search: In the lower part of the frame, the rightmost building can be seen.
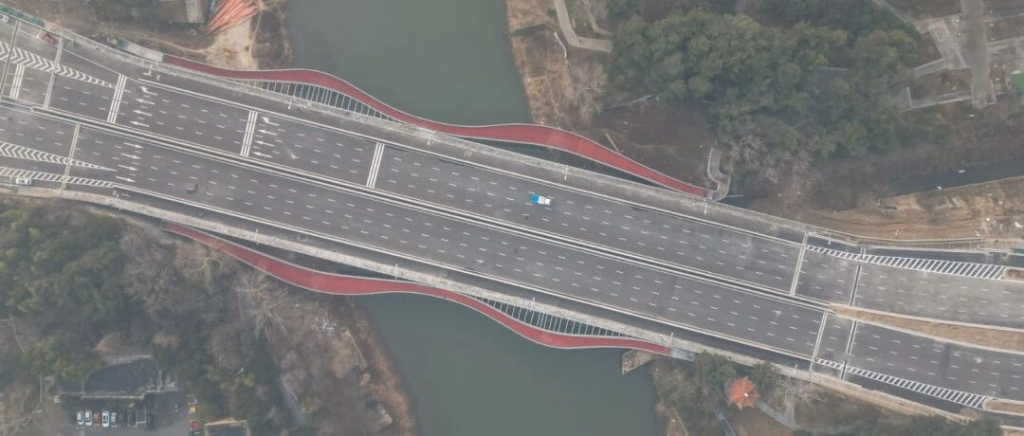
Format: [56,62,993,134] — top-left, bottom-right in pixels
[727,376,761,408]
